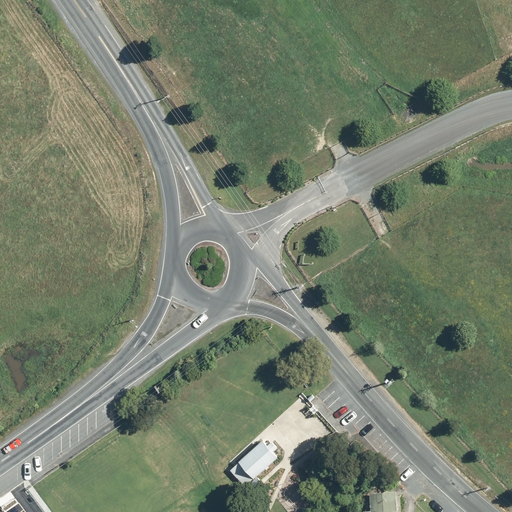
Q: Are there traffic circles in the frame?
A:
Yes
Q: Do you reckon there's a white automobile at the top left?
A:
No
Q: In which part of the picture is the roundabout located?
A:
center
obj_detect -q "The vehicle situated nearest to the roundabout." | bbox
[192,313,208,329]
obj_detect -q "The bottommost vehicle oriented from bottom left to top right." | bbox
[400,466,416,482]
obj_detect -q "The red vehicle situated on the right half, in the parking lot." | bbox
[333,404,349,419]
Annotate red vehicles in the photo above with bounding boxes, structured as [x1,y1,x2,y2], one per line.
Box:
[333,404,349,419]
[3,438,22,455]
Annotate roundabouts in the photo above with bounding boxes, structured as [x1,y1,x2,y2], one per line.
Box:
[172,224,243,307]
